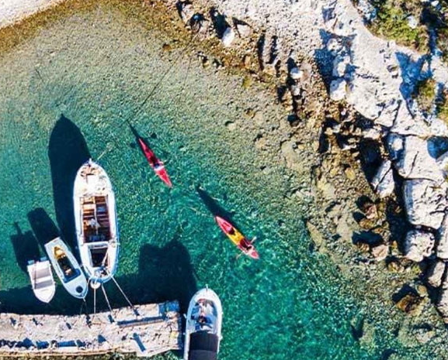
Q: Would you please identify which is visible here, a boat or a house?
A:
boat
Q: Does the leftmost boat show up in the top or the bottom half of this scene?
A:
bottom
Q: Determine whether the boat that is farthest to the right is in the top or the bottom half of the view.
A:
bottom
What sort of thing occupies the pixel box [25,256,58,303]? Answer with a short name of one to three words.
boat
